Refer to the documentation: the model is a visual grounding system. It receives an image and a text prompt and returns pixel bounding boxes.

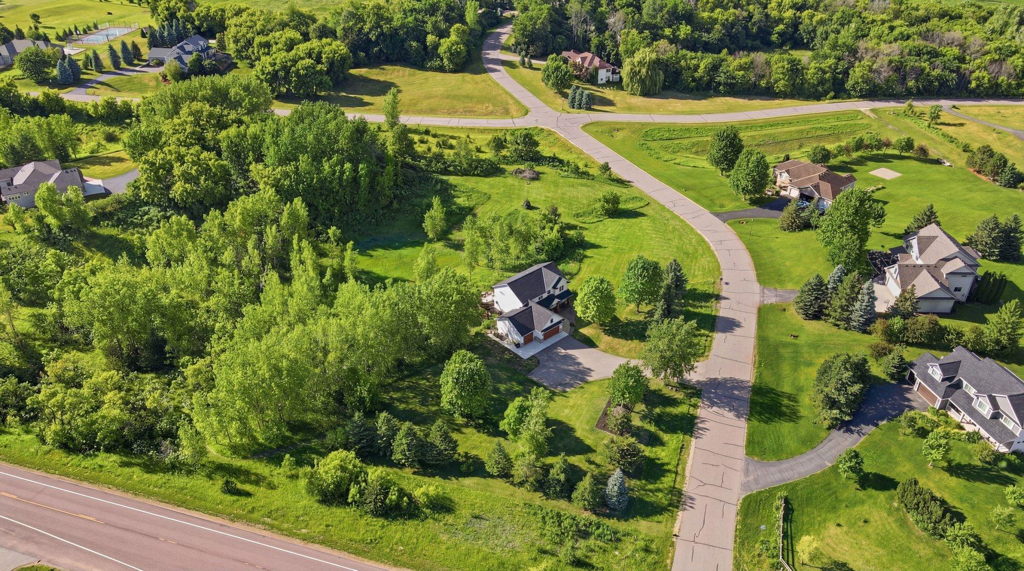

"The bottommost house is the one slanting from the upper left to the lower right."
[904,344,1024,461]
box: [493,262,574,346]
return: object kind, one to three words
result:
house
